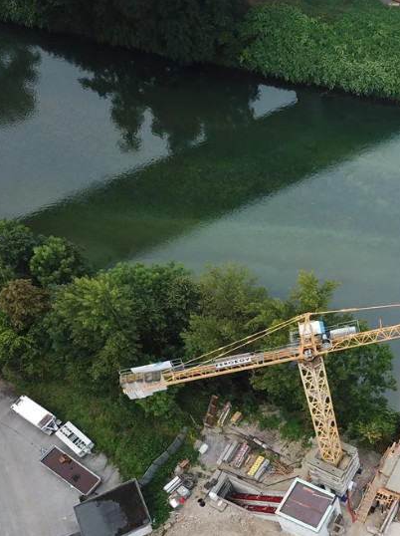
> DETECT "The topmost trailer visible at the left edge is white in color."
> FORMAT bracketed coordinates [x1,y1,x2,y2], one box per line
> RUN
[7,391,60,431]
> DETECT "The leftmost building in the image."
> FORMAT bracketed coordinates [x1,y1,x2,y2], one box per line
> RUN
[73,479,161,536]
